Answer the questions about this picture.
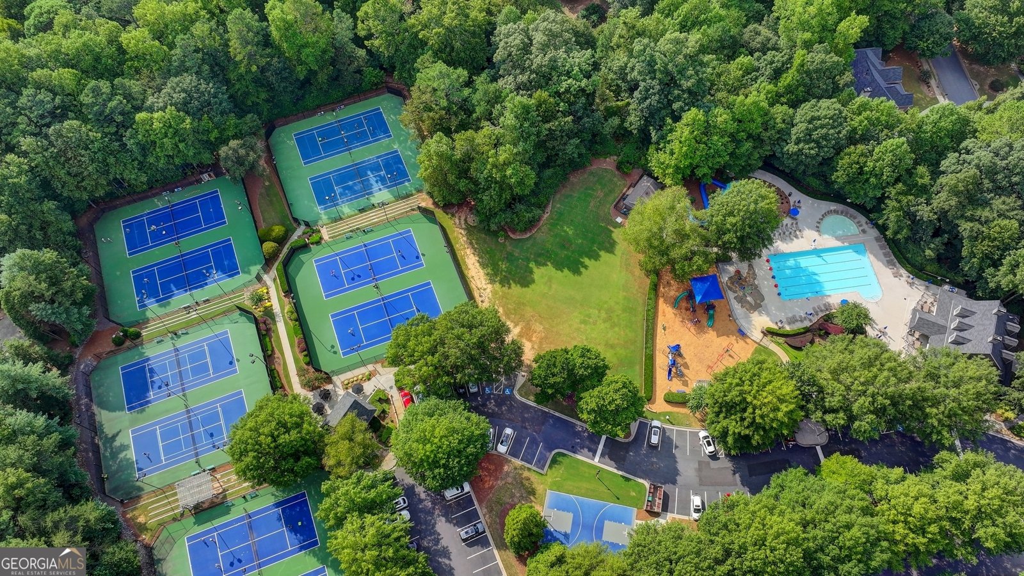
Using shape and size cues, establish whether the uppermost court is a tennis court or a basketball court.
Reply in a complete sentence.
The uppermost court can be classified as a tennis court.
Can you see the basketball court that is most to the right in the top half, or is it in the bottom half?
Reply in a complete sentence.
It is in the bottom half that the basketball court that is most to the right appears.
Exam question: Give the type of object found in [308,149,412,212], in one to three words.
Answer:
tennis court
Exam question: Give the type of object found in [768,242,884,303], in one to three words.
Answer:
swimming pool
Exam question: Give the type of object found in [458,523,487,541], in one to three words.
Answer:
car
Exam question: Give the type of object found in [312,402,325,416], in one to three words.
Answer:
umbrella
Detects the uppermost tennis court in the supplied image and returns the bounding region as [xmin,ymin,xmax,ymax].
[293,107,393,166]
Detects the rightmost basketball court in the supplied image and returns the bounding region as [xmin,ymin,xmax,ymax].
[534,491,635,576]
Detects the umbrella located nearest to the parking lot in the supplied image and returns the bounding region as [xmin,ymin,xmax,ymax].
[350,382,364,396]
